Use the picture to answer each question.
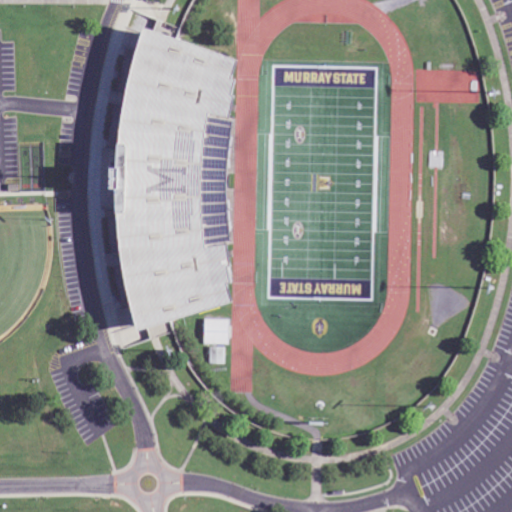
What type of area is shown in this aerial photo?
sports ground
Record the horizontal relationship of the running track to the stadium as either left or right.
to the right of it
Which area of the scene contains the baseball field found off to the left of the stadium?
left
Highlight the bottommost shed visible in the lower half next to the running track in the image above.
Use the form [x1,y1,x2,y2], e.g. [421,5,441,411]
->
[210,346,226,364]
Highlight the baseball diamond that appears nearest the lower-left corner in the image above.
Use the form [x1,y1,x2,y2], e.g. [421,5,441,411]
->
[0,202,54,343]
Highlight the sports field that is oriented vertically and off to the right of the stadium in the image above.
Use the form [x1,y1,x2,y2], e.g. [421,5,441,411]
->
[257,62,390,352]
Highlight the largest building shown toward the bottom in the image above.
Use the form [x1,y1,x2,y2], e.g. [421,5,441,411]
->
[204,318,230,346]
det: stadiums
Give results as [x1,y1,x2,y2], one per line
[108,29,237,331]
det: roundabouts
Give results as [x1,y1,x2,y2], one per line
[115,448,184,512]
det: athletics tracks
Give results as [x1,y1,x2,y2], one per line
[231,0,414,392]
